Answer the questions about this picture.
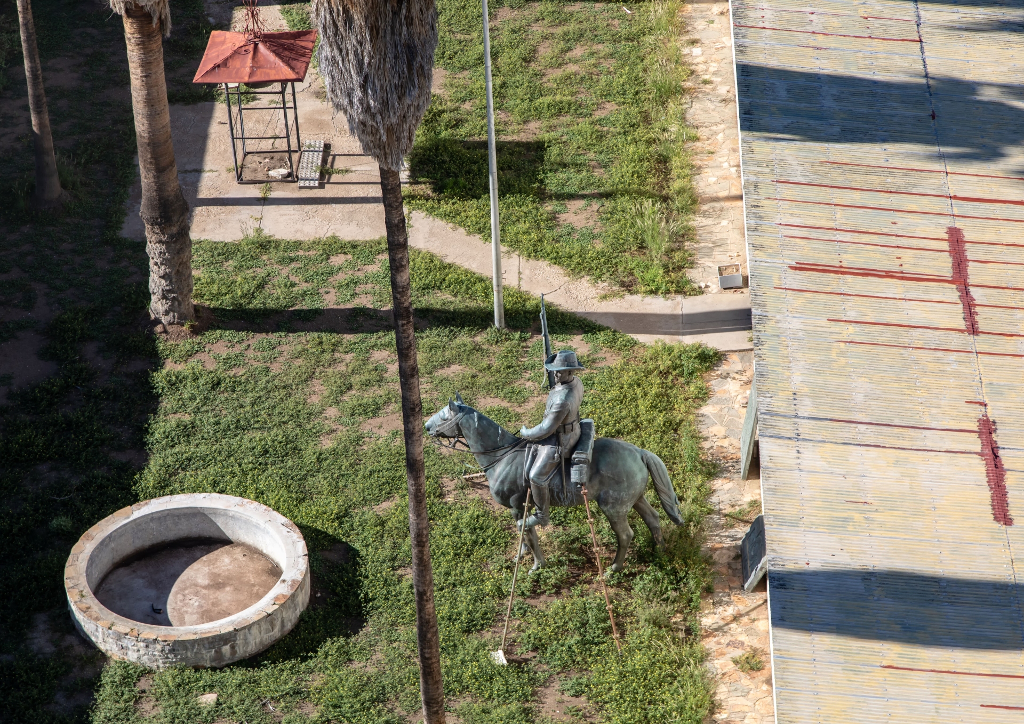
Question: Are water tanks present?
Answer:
No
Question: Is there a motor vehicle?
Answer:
No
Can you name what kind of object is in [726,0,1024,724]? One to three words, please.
building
